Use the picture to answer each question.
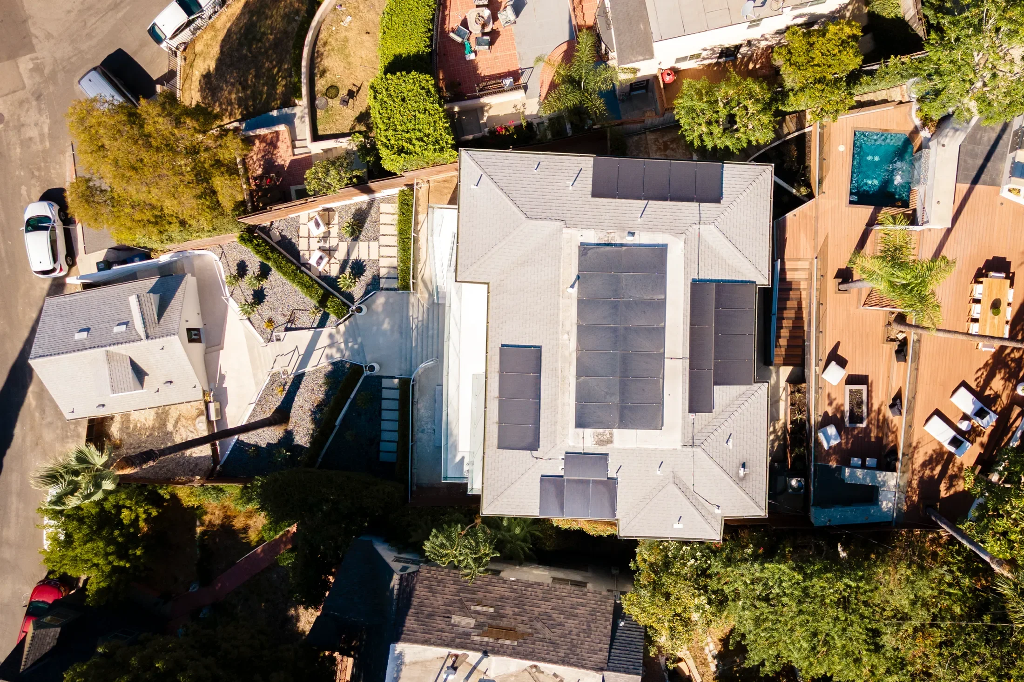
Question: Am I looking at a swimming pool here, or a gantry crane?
swimming pool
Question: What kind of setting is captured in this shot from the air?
residential area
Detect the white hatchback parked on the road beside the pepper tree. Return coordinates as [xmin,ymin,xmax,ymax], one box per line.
[21,200,73,280]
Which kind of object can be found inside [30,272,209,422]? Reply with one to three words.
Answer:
house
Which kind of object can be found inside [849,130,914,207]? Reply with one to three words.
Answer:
swimming pool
